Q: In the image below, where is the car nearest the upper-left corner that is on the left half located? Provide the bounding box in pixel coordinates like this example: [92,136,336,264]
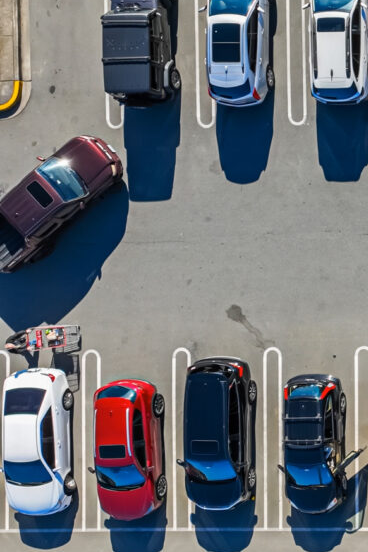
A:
[102,0,179,105]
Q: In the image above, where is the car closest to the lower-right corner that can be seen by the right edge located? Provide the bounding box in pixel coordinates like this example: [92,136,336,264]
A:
[278,372,368,516]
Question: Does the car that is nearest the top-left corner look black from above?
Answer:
Yes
